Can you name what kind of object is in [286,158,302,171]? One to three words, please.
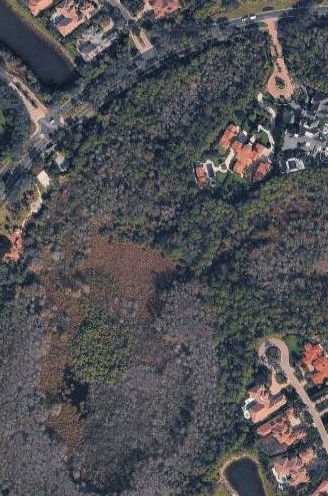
swimming pool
